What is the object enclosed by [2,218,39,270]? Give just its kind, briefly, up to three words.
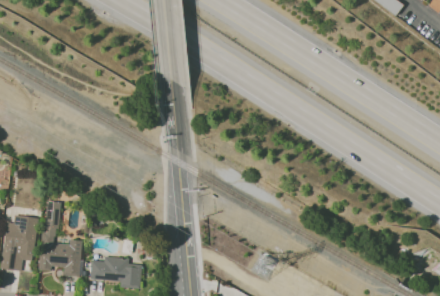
house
